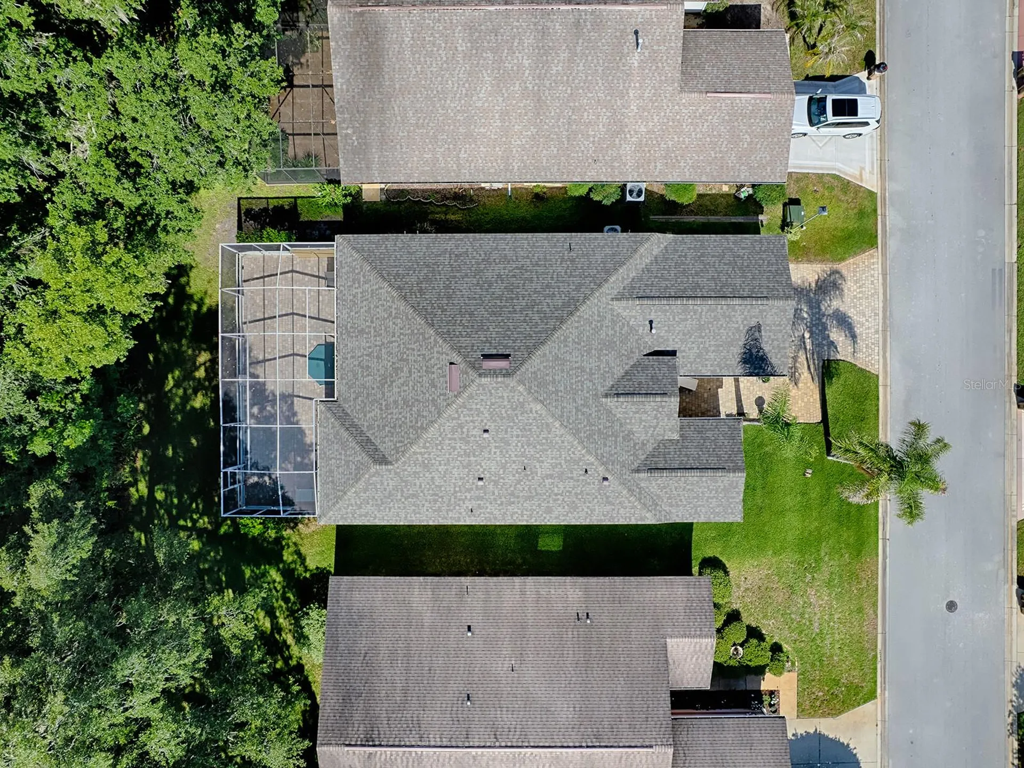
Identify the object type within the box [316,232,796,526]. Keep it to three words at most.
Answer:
house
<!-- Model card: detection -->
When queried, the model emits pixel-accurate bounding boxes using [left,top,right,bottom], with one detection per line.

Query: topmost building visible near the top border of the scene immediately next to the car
[326,0,797,199]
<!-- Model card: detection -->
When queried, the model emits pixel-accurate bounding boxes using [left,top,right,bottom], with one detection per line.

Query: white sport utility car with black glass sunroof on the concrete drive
[793,88,882,138]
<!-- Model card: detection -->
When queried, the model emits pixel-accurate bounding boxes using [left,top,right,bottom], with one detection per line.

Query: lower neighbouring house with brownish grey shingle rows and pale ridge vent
[317,575,791,768]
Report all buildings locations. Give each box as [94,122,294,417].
[317,575,791,768]
[316,232,796,526]
[326,0,797,199]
